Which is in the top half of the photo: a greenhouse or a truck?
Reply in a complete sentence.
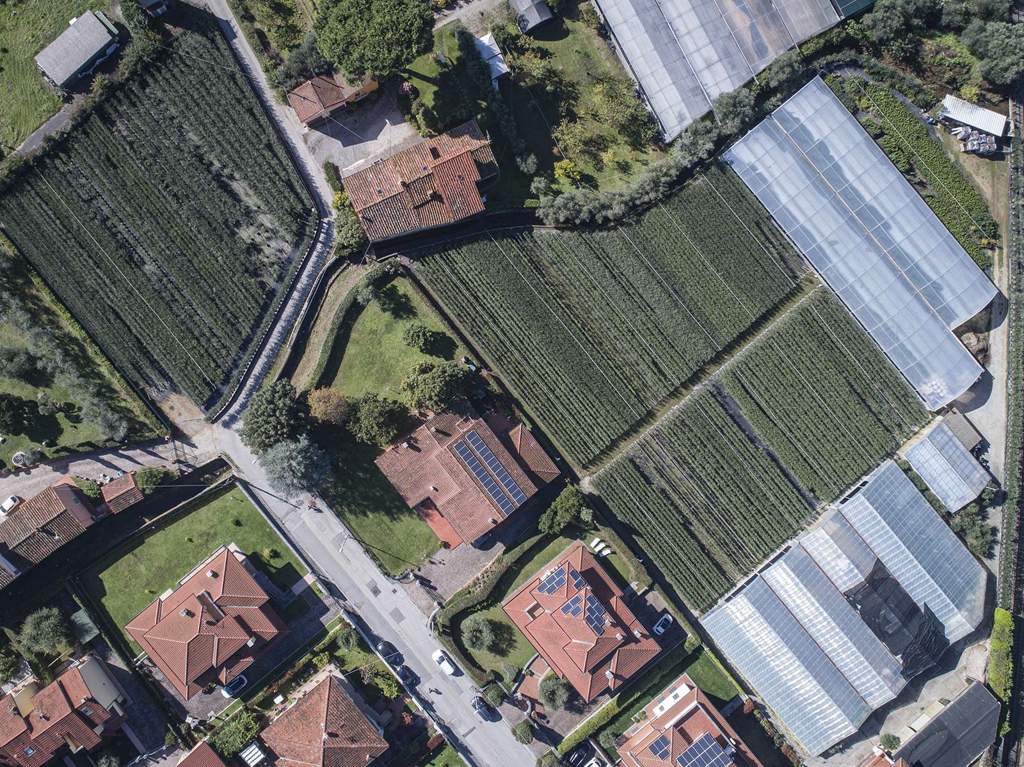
You can see a greenhouse in the top half of the photo.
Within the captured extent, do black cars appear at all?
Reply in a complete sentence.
Yes, a black car appears in the view.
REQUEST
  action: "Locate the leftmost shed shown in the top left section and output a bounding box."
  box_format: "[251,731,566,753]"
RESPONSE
[35,10,122,90]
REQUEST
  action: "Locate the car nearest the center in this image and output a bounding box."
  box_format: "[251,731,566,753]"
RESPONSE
[466,530,495,556]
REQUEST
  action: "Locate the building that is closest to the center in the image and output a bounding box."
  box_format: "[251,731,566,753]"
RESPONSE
[373,400,561,550]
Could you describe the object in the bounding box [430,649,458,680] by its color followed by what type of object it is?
white car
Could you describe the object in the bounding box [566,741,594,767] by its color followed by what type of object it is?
black car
